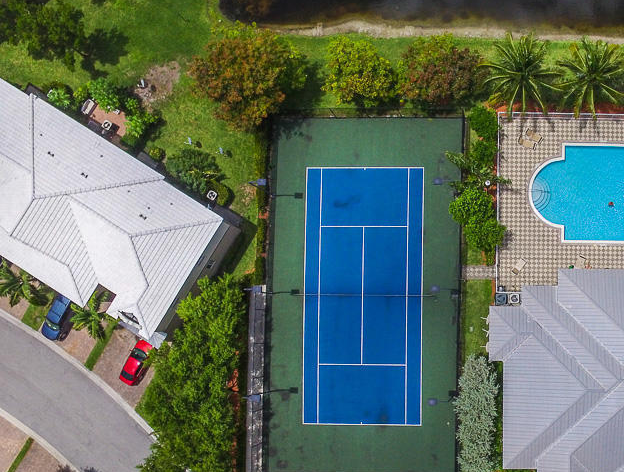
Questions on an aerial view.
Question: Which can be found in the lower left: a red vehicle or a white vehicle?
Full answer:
There is a red vehicle in the lower left.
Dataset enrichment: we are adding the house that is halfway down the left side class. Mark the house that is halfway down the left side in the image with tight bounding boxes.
[0,77,241,349]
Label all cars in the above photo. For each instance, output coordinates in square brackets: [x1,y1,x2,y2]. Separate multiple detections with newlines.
[116,337,158,389]
[38,291,81,343]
